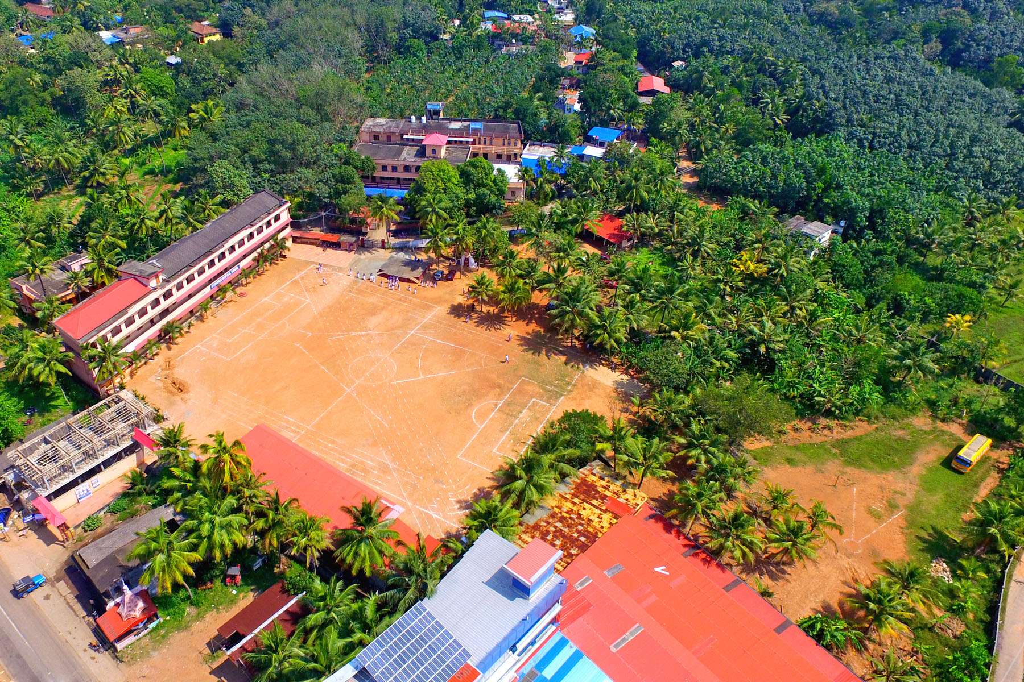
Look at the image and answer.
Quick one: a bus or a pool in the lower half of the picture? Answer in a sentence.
There is a bus in the lower half of the picture.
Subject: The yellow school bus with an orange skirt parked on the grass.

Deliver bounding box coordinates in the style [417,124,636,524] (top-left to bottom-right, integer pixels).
[956,427,998,470]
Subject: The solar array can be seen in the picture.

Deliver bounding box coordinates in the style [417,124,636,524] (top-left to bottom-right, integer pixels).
[343,597,473,682]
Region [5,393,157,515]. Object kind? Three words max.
building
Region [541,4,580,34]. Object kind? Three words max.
house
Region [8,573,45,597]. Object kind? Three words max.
car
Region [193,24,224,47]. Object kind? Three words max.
house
